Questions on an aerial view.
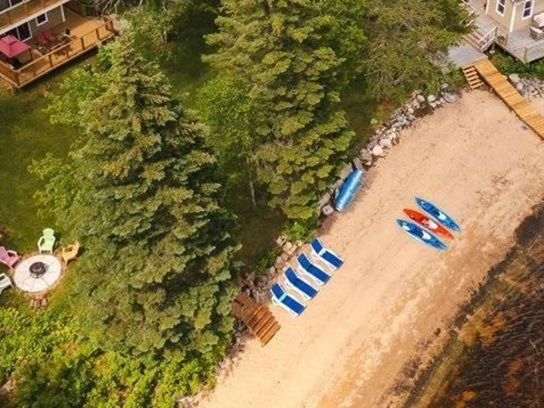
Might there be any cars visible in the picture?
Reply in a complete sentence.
No, I can see no car in this picture.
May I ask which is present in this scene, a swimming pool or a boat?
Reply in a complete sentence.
The one in the frame is a boat.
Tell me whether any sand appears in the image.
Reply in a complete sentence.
Yes, there is sand in the image.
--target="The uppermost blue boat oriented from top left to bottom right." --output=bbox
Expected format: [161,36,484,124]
[415,197,461,232]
